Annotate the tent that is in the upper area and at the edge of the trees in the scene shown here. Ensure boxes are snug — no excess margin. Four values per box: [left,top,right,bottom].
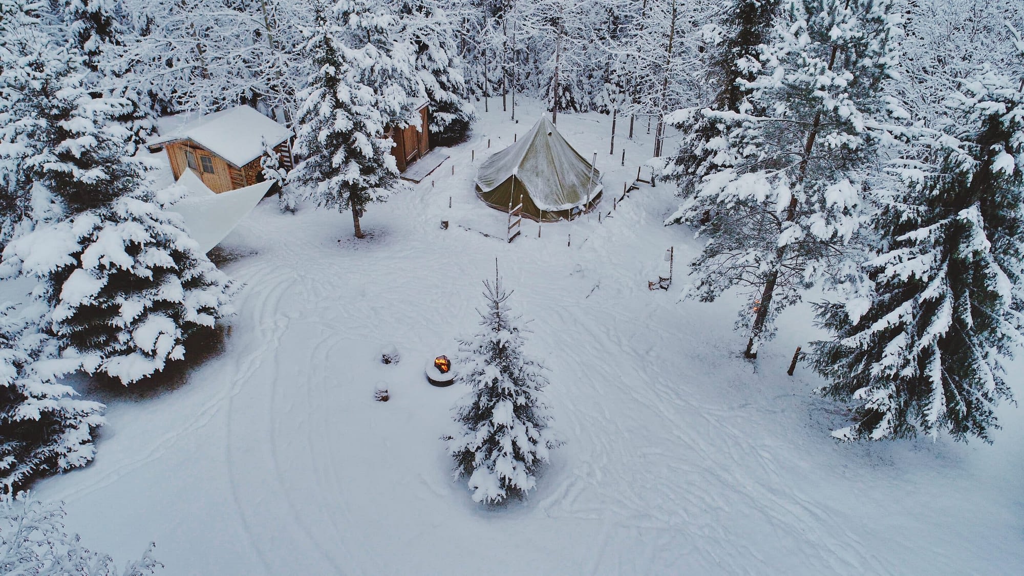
[473,110,605,223]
